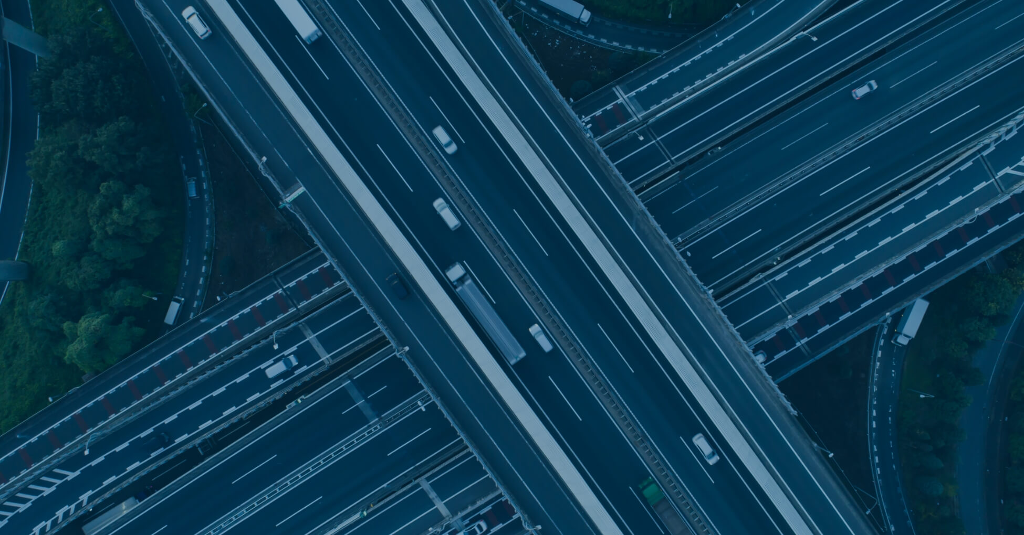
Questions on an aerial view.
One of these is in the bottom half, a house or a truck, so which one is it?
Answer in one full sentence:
What appears in the bottom half is a truck.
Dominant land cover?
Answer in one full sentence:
What you mostly see from above here is paved ground.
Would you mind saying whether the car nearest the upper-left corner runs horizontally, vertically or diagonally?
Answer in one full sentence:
The car nearest the upper-left corner is laid out diagonally.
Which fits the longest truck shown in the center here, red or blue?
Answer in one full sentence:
The longest truck shown in the center looks blue in the image.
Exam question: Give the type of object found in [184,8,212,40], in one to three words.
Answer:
car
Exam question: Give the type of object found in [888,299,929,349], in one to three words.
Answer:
truck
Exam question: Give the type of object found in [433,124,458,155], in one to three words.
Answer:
car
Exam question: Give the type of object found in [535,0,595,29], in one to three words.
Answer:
truck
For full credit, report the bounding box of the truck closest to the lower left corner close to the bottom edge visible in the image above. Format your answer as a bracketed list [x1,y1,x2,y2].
[82,482,161,535]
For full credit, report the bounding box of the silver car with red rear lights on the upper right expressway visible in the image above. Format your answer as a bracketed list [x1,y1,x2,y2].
[849,80,877,101]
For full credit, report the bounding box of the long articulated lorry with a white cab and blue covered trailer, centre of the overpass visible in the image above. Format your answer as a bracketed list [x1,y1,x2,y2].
[443,262,526,365]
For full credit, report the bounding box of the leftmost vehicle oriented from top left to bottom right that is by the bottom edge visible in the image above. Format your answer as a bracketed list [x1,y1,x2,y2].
[636,473,691,535]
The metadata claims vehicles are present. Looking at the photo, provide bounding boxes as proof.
[636,473,691,535]
[849,80,877,101]
[163,296,184,325]
[185,175,201,199]
[275,0,329,53]
[888,299,929,349]
[535,0,595,29]
[693,433,717,464]
[265,353,299,379]
[82,482,161,535]
[529,323,553,352]
[433,124,458,155]
[434,198,461,230]
[443,262,526,365]
[143,432,171,454]
[184,8,212,40]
